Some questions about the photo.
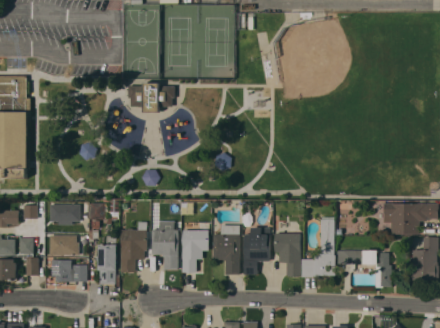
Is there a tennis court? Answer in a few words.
Yes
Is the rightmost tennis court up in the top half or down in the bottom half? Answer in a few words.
top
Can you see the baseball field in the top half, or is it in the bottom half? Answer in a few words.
top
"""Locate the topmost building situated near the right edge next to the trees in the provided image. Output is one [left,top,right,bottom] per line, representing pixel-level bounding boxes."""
[384,198,439,234]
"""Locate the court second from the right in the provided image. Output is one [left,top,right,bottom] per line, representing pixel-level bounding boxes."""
[164,4,200,78]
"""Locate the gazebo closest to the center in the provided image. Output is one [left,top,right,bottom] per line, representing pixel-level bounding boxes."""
[215,153,232,168]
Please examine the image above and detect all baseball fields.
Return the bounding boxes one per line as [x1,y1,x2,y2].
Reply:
[252,12,440,194]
